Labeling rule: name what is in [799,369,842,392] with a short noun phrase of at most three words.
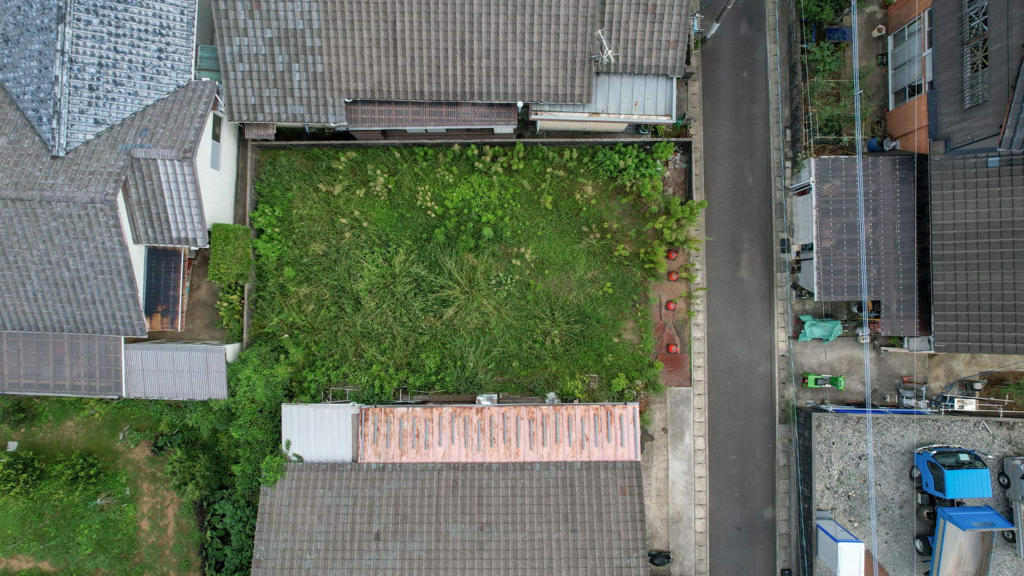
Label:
work vehicle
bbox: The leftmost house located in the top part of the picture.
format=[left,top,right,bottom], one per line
[0,0,241,399]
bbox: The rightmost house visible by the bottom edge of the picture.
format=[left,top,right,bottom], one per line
[252,398,649,576]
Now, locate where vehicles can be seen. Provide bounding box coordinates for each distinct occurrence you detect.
[648,549,681,572]
[1000,455,1024,564]
[799,369,842,392]
[910,440,1012,576]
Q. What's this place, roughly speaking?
residential area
